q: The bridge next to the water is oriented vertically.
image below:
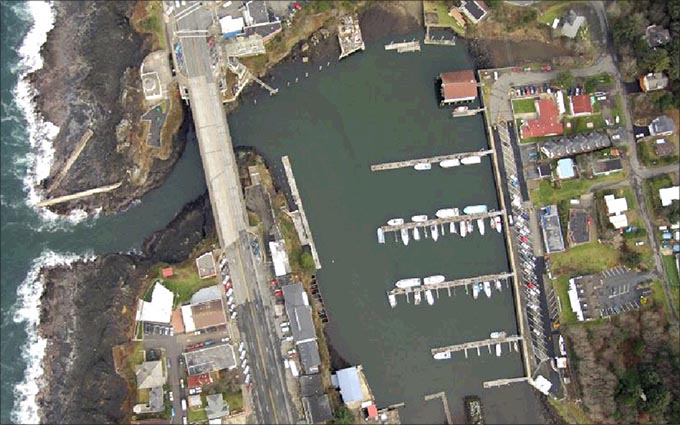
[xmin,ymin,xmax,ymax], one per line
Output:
[189,76,250,250]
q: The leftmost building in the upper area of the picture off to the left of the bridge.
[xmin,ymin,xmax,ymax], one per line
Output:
[142,73,163,101]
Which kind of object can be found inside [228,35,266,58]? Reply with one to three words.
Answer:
building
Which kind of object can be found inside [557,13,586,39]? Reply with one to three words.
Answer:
house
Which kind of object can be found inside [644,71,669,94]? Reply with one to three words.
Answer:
house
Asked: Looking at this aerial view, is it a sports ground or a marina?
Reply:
marina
